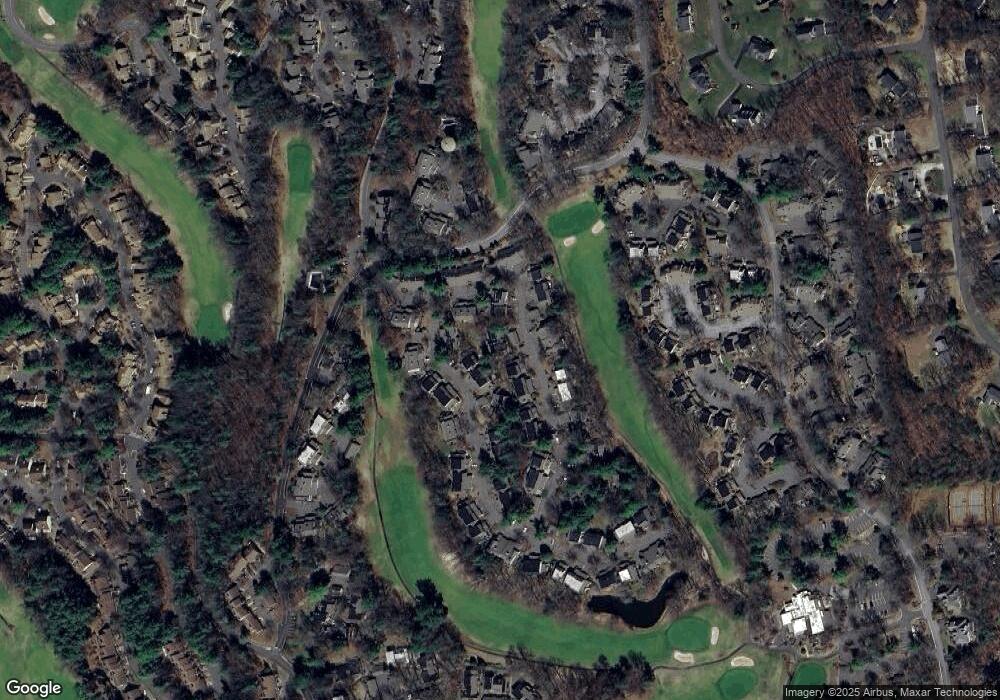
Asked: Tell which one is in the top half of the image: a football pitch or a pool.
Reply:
pool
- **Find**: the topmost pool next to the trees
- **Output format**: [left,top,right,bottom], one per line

[868,130,893,150]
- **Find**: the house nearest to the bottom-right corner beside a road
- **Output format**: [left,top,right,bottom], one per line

[947,623,973,642]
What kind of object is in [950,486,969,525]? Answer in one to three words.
tennis court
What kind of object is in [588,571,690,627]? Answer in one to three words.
pond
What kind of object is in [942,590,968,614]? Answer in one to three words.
house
